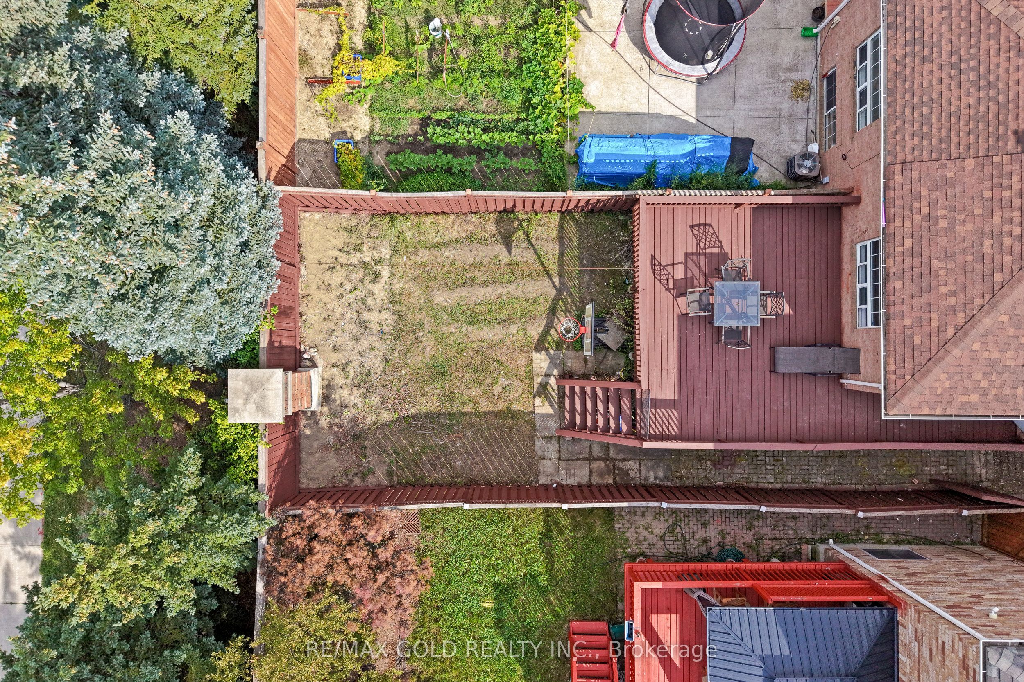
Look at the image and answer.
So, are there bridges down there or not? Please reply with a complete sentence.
No, no bridge is visible in the scene.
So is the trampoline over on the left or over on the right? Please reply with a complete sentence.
The trampoline is on the right side of the image.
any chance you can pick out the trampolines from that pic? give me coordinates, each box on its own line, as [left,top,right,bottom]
[636,0,764,95]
